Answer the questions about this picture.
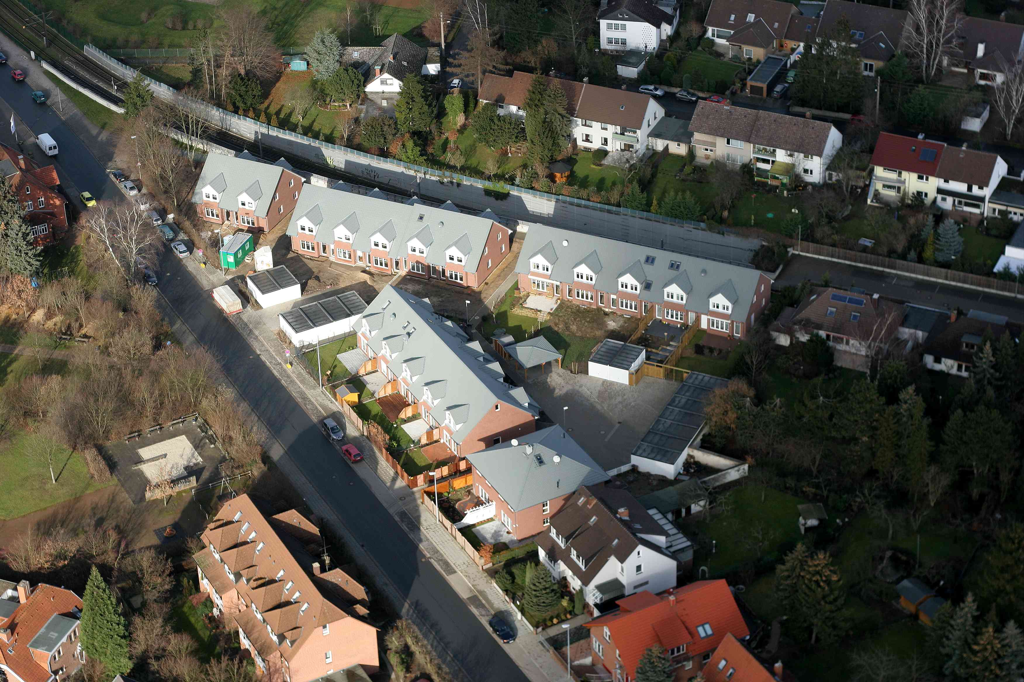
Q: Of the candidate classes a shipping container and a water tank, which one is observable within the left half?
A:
shipping container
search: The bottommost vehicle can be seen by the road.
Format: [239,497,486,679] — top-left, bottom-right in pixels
[488,618,517,646]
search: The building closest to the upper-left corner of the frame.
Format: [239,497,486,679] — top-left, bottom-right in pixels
[0,157,67,245]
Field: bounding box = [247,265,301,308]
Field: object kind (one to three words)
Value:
building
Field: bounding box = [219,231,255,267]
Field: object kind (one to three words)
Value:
shipping container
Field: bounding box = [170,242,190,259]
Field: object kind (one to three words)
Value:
car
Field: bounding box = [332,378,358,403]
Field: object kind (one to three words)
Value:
shed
